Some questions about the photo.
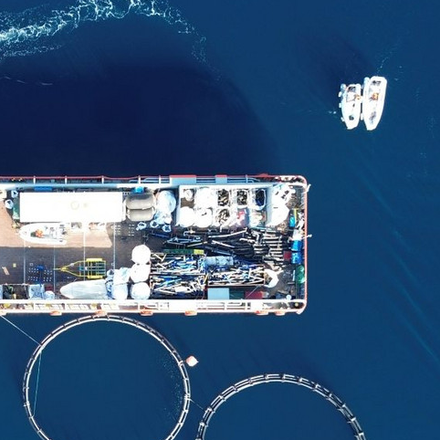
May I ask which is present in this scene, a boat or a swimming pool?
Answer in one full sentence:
Visible in the photo is a boat.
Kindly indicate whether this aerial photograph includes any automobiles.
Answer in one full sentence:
No, the photo shows no automobile.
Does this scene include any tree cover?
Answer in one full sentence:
No, the picture contains no tree cover.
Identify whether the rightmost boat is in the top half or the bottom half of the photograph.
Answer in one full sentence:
The top half of the photo is where the rightmost boat is.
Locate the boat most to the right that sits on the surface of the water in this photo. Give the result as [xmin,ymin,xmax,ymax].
[362,72,389,131]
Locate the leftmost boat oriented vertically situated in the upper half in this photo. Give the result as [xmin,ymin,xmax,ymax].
[338,80,364,130]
